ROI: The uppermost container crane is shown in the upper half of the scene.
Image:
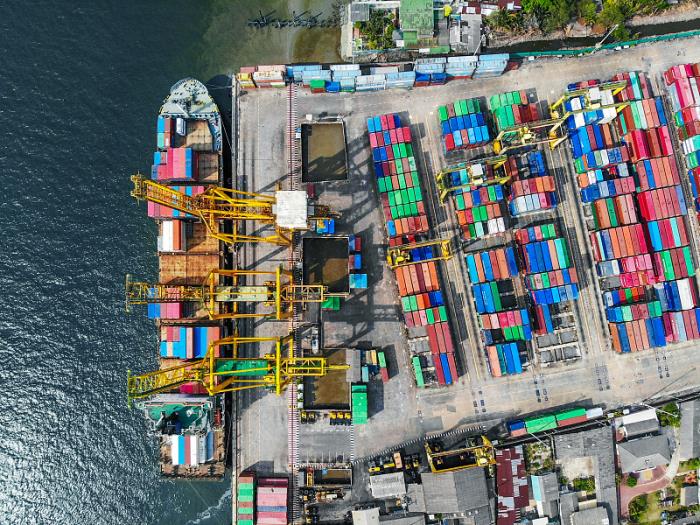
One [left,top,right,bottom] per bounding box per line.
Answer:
[546,80,632,131]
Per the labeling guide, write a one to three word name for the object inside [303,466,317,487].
vehicle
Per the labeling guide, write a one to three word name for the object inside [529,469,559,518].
house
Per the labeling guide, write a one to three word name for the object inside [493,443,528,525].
building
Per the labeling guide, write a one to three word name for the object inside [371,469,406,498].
building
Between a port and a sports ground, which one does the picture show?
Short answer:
port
